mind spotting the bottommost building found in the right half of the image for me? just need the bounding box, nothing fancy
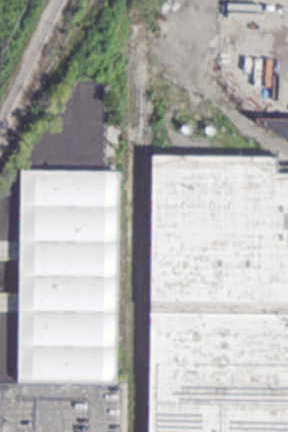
[150,156,288,432]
